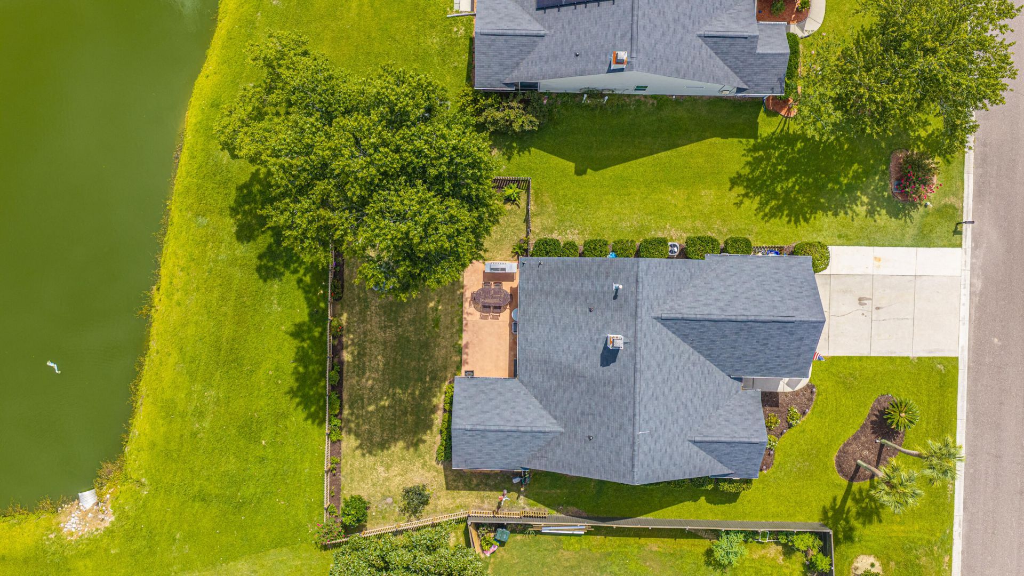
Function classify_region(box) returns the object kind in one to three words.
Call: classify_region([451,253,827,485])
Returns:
house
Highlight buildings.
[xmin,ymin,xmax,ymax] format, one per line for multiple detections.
[451,253,827,485]
[474,0,791,100]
